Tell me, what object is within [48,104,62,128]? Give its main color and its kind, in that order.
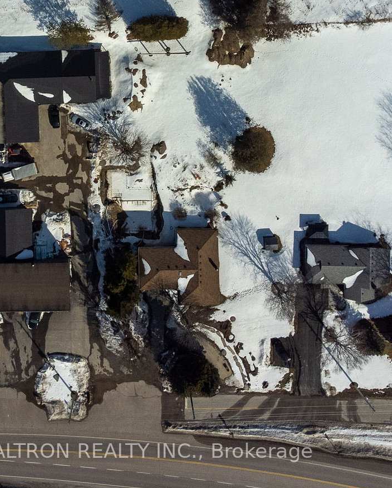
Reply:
black vehicle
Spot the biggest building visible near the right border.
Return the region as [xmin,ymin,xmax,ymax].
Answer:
[303,243,391,302]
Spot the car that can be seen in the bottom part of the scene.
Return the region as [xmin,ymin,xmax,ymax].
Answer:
[27,312,40,328]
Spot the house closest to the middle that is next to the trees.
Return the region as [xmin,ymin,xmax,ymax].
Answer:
[137,228,220,305]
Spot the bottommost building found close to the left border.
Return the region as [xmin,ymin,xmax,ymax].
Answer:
[0,258,70,312]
